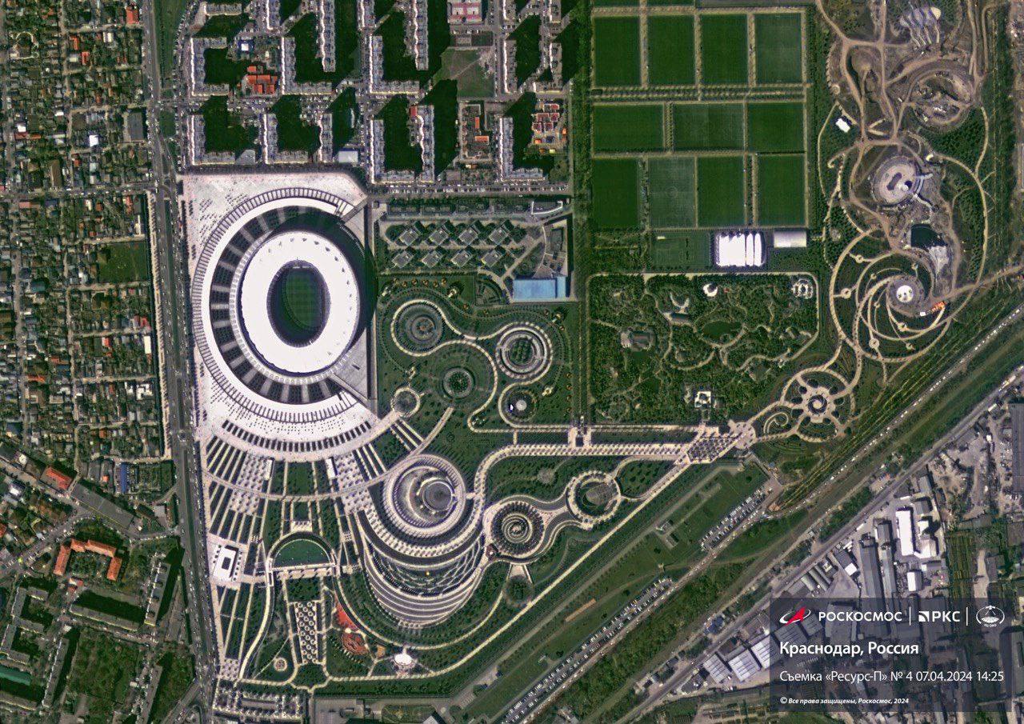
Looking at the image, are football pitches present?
Yes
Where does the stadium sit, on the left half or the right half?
left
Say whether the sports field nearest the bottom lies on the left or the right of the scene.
left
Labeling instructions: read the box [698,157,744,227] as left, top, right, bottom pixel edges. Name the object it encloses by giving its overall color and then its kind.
green soccer field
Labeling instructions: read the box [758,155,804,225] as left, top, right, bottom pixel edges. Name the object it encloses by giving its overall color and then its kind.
green soccer field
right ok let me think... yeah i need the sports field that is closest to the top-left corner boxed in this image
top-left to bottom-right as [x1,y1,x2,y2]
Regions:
[273,267,322,342]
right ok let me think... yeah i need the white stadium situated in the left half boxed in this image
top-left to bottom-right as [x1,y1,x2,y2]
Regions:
[202,196,365,413]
